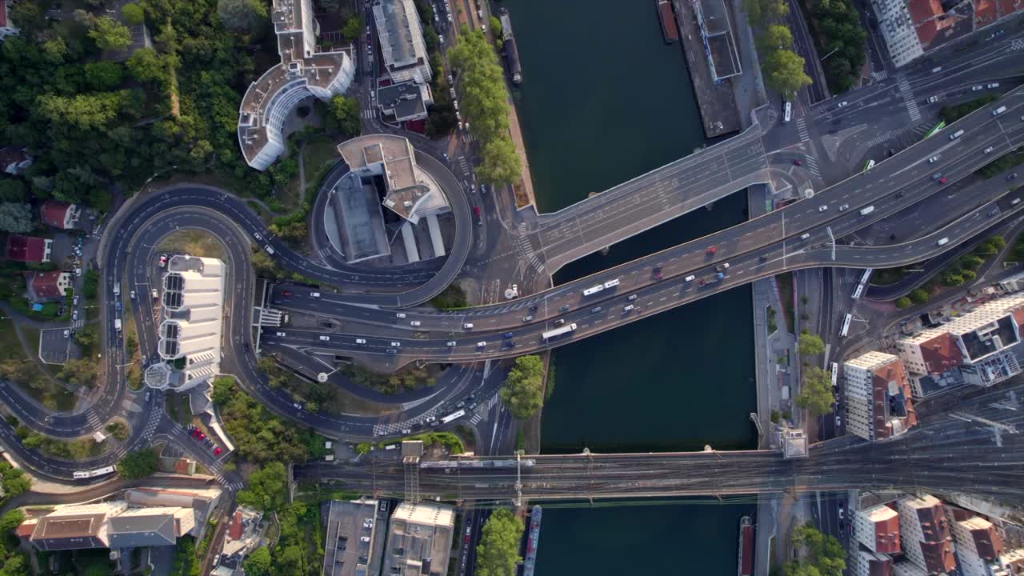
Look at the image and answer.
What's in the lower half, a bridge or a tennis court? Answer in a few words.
bridge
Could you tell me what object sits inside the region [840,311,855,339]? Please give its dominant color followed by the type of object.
white vehicle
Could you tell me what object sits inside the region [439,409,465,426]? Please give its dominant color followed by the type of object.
white vehicle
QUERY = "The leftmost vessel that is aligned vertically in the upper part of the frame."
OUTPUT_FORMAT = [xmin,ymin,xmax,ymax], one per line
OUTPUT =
[499,7,521,84]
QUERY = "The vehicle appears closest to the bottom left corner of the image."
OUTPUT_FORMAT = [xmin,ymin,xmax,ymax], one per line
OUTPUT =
[70,466,115,481]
